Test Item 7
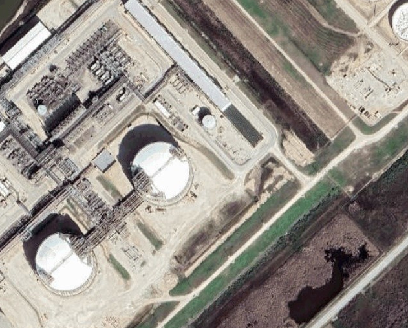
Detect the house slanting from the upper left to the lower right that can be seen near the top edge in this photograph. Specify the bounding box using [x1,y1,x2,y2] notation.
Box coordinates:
[124,0,228,110]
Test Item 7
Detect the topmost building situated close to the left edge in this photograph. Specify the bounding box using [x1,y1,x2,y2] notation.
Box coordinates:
[1,21,52,72]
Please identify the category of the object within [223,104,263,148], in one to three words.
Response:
house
